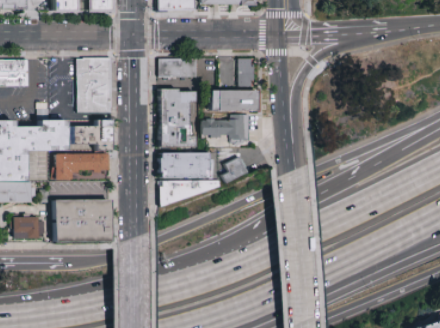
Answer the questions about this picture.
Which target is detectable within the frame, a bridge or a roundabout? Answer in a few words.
bridge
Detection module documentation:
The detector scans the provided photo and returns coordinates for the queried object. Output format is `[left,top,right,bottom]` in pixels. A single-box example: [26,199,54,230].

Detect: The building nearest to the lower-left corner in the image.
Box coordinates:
[12,217,44,240]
